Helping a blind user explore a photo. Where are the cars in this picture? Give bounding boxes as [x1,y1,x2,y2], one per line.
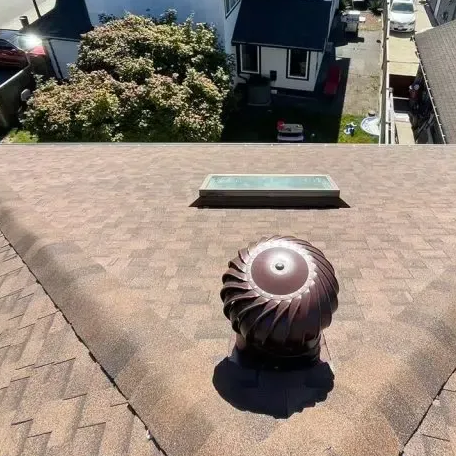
[381,0,418,33]
[0,26,45,68]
